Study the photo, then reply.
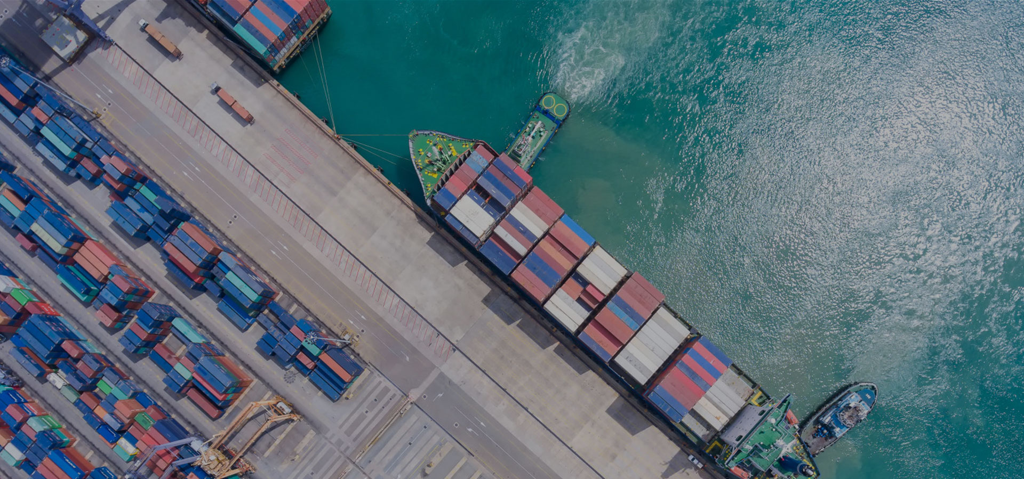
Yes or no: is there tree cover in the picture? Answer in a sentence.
No, tree cover can't be seen anywhere here.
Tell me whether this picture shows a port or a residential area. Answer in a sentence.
What you see here is a port.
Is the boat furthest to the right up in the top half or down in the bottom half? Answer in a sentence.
The boat furthest to the right sits in the bottom half of the picture.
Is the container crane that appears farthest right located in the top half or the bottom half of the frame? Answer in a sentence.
Seen from above, the container crane that appears farthest right lies in the bottom half of the view.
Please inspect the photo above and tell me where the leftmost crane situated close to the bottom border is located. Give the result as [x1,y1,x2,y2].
[122,435,207,479]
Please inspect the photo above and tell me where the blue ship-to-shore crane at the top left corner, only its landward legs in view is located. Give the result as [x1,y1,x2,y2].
[57,0,118,45]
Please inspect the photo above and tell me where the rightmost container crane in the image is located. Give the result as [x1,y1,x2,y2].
[192,395,300,479]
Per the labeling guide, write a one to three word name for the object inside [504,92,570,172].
boat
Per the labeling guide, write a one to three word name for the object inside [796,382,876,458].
boat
